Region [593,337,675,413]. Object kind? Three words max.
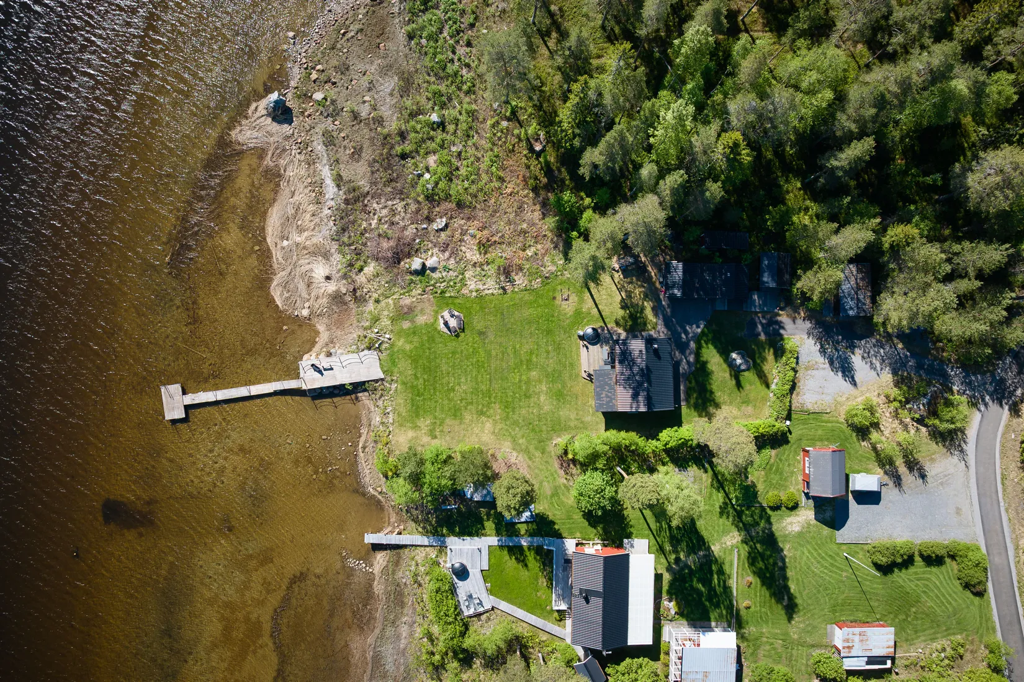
house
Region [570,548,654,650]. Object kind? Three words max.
house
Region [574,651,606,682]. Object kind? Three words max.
shed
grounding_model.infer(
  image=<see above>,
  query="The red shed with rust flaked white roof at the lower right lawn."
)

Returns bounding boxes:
[837,622,895,669]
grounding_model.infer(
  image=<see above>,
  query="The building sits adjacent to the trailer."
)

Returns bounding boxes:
[803,450,846,498]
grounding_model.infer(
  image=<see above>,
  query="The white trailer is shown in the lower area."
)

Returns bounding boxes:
[845,471,883,491]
